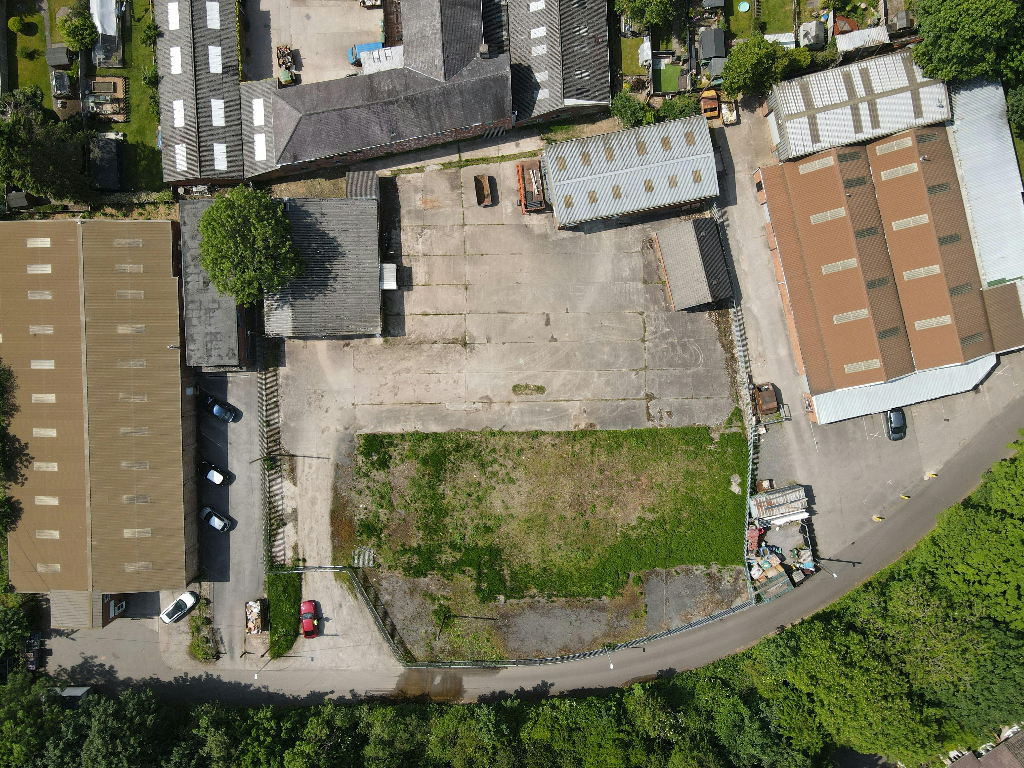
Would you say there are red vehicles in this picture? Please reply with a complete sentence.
Yes, looking at the shot, I can spot a red vehicle.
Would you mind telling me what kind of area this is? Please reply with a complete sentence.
This looks like an industrial area.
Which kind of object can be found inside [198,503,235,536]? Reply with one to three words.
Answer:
car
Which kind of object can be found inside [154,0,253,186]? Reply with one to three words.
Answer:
shed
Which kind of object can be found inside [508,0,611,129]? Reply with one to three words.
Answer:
shed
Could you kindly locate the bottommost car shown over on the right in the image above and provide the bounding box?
[884,406,909,443]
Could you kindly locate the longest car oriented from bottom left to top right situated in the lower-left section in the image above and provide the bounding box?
[157,589,198,627]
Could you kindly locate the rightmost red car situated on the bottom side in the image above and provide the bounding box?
[298,600,320,639]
